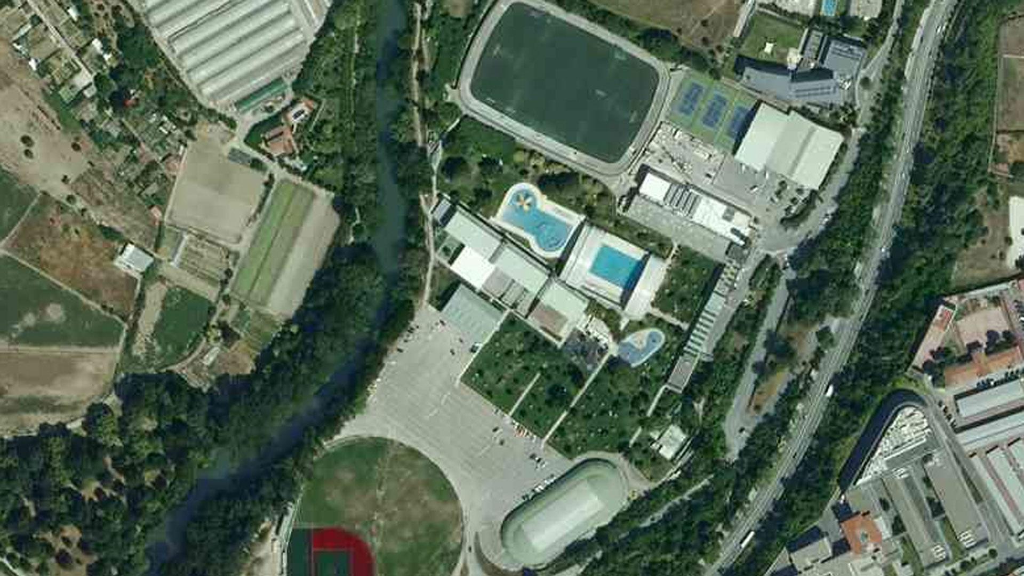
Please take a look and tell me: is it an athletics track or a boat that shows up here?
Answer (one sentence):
There is an athletics track in the scene.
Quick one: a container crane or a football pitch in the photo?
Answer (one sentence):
The image shows a football pitch.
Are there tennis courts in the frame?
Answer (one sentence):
Yes, the image includes a tennis court.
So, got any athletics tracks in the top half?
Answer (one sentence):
Yes, I can see an athletics track in the top half.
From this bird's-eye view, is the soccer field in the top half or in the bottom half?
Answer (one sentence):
It is in the top half that the soccer field appears.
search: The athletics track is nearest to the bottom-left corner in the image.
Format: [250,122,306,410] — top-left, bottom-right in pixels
[313,527,376,576]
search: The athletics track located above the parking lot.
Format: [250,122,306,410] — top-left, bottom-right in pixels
[458,0,670,176]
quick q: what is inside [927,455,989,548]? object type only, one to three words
building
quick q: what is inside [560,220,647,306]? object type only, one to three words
swimming pool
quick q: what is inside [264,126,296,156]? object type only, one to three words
house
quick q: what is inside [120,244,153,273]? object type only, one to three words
barn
